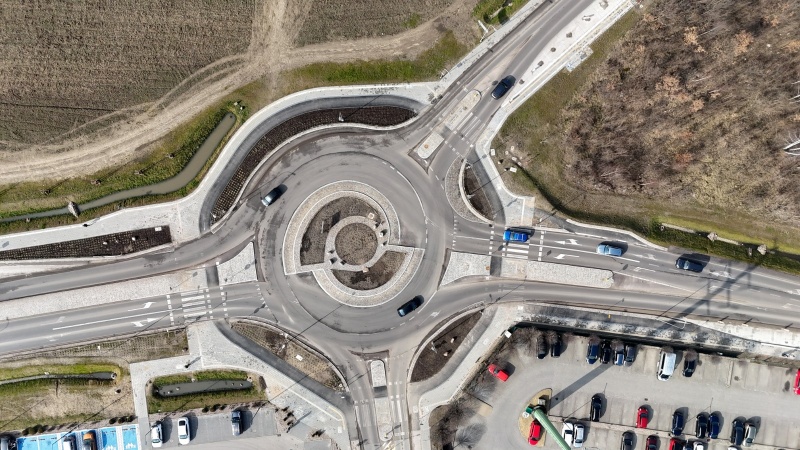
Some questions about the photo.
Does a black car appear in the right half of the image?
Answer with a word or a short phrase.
Yes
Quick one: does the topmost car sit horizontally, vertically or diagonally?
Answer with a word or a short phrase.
diagonally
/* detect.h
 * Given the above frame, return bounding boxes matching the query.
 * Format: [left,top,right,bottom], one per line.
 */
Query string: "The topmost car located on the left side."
[260,184,284,208]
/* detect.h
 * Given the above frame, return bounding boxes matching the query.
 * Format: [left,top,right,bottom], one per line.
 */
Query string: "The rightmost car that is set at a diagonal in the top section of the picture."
[490,75,515,100]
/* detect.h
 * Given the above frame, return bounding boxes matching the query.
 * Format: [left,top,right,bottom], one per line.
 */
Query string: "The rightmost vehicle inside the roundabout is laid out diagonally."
[398,295,423,316]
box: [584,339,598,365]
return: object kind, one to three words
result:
car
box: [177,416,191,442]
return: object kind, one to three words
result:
vehicle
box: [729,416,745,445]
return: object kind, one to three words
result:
car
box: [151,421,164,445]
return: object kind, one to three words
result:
vehicle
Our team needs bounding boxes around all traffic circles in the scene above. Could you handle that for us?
[233,126,449,352]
